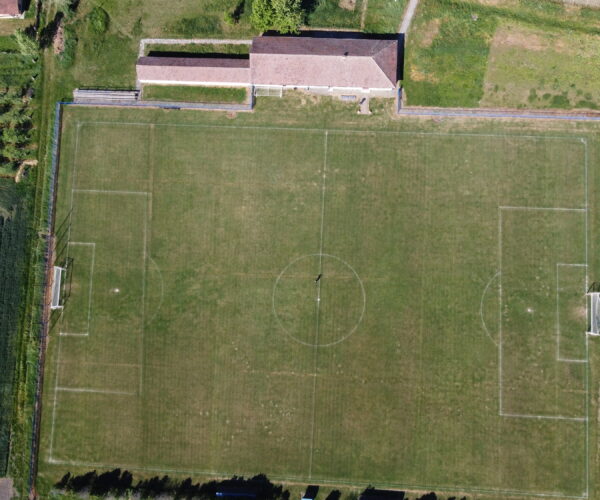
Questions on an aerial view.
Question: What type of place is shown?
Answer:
sports ground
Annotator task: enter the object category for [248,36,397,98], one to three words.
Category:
building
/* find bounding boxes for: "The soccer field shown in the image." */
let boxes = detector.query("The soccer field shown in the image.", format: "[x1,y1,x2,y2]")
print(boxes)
[39,113,599,500]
